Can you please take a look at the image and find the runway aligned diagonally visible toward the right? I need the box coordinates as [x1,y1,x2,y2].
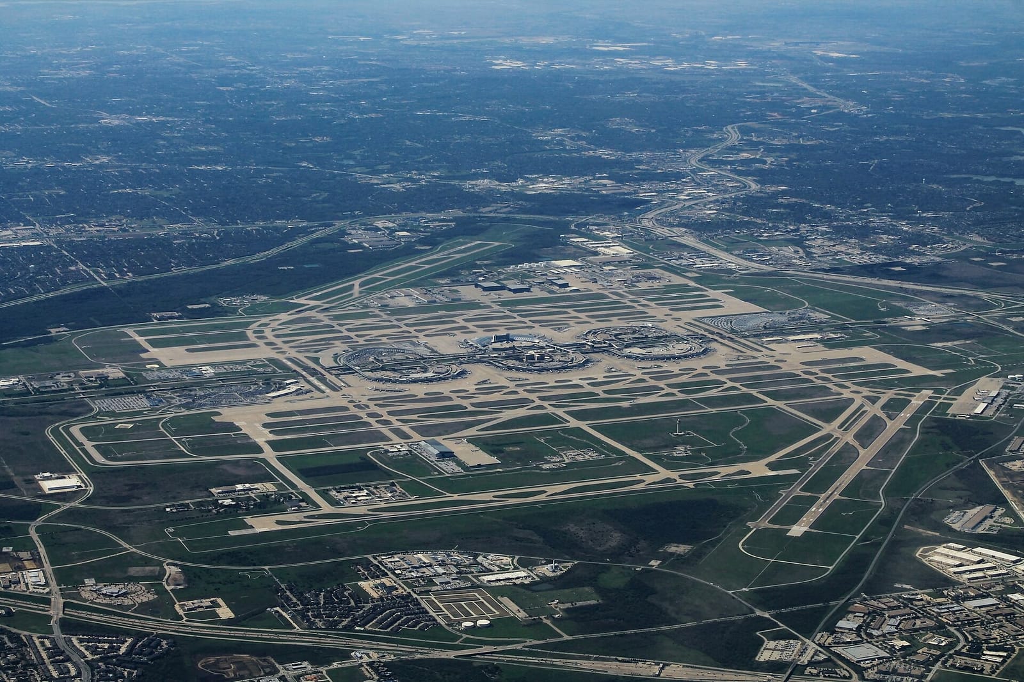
[794,389,928,529]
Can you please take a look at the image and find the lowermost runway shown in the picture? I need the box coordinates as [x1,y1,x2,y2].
[255,474,772,530]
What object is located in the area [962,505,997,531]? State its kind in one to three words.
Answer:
building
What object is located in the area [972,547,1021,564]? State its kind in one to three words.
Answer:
building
